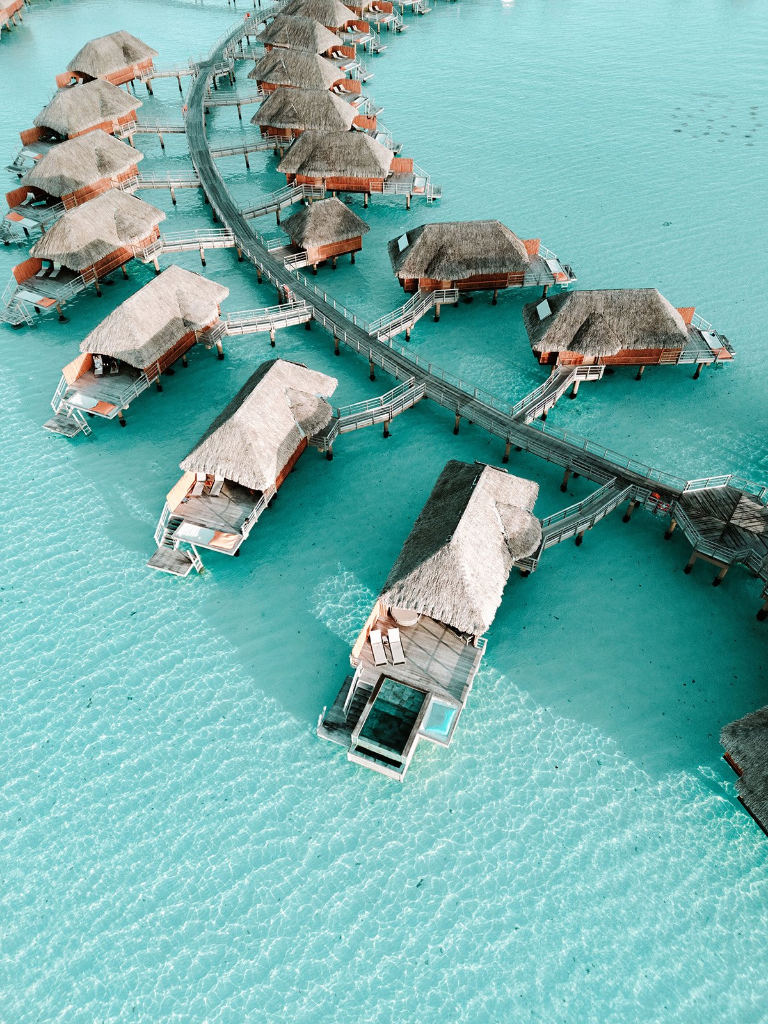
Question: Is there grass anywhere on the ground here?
No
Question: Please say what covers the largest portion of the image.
water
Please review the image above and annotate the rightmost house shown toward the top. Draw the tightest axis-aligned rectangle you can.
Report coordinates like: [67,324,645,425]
[519,289,731,399]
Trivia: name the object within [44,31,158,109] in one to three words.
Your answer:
house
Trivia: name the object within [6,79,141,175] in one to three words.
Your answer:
house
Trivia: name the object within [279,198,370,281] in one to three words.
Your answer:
shed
